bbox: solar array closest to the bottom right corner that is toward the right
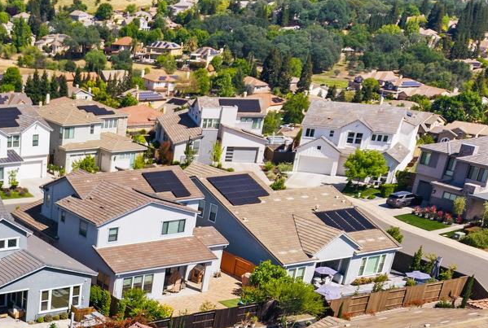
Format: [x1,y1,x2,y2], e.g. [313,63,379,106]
[321,204,376,231]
